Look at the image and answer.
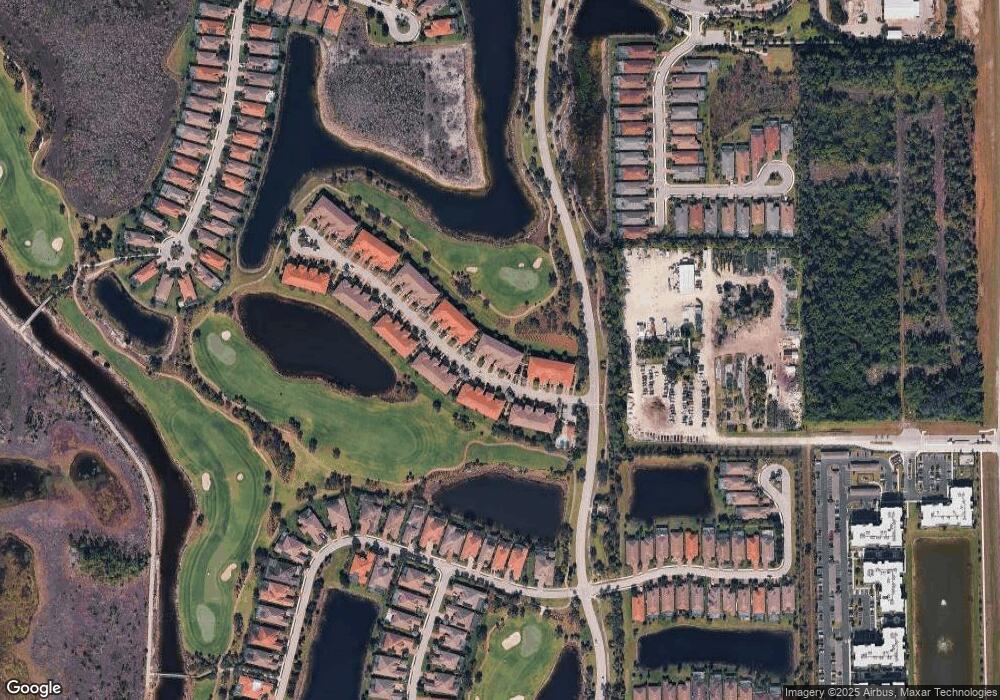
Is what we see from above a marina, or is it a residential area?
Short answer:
residential area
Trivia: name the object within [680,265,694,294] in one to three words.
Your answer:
building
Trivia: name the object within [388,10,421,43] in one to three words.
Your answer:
roundabout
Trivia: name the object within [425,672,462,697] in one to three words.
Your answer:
house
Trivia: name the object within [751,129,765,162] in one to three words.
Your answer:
house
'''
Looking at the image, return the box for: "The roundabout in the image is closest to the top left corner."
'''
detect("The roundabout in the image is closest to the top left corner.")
[160,234,192,268]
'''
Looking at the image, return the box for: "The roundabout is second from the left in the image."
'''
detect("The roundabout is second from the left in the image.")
[290,226,356,272]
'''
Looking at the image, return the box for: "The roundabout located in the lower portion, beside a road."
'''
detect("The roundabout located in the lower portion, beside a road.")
[759,465,791,526]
